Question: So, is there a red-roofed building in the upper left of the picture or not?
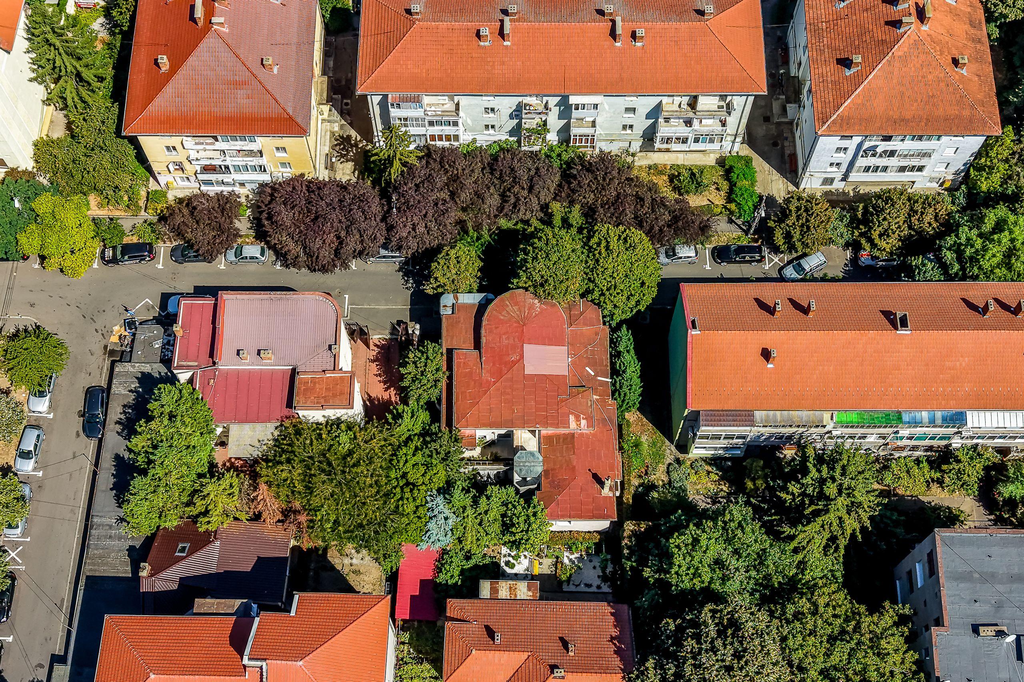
Yes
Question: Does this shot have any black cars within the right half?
Yes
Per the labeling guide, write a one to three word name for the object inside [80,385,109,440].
car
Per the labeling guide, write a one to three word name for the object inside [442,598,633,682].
house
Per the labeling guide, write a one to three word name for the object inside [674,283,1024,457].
building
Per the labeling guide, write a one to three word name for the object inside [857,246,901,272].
car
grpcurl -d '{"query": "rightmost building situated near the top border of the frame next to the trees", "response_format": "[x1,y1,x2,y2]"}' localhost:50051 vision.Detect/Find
[772,0,1002,181]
